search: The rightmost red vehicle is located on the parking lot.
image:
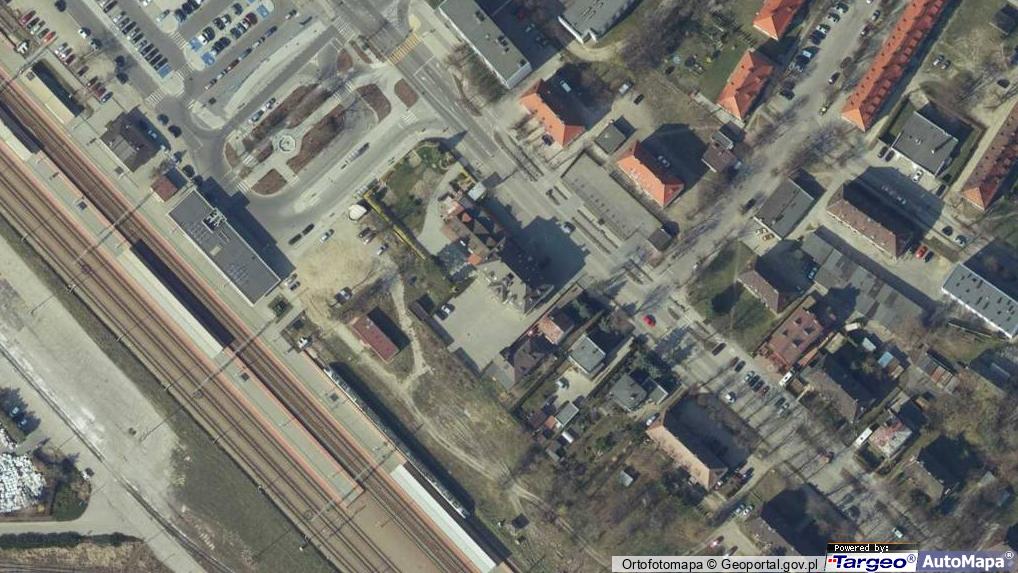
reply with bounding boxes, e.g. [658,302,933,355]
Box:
[915,245,928,260]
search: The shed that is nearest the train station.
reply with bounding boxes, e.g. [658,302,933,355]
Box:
[152,174,179,203]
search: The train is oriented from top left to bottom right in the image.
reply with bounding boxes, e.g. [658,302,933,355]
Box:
[326,366,467,515]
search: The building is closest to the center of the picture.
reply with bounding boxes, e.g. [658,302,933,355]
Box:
[477,254,553,316]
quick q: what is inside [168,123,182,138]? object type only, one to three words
vehicle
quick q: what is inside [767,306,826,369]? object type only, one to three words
building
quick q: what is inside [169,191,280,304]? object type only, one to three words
train station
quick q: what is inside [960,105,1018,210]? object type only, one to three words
house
